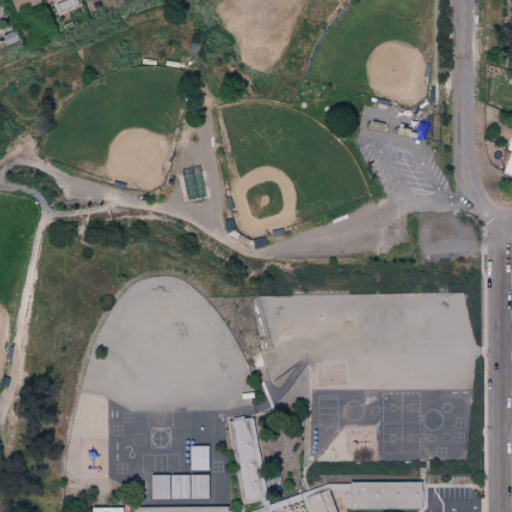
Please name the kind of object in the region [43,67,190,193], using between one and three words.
baseball field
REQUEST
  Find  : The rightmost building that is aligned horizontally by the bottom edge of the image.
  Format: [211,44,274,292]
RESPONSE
[352,482,423,510]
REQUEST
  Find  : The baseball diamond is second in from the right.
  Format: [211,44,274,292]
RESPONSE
[218,102,369,238]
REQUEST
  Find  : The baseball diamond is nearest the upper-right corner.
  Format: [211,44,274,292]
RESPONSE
[306,0,434,110]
